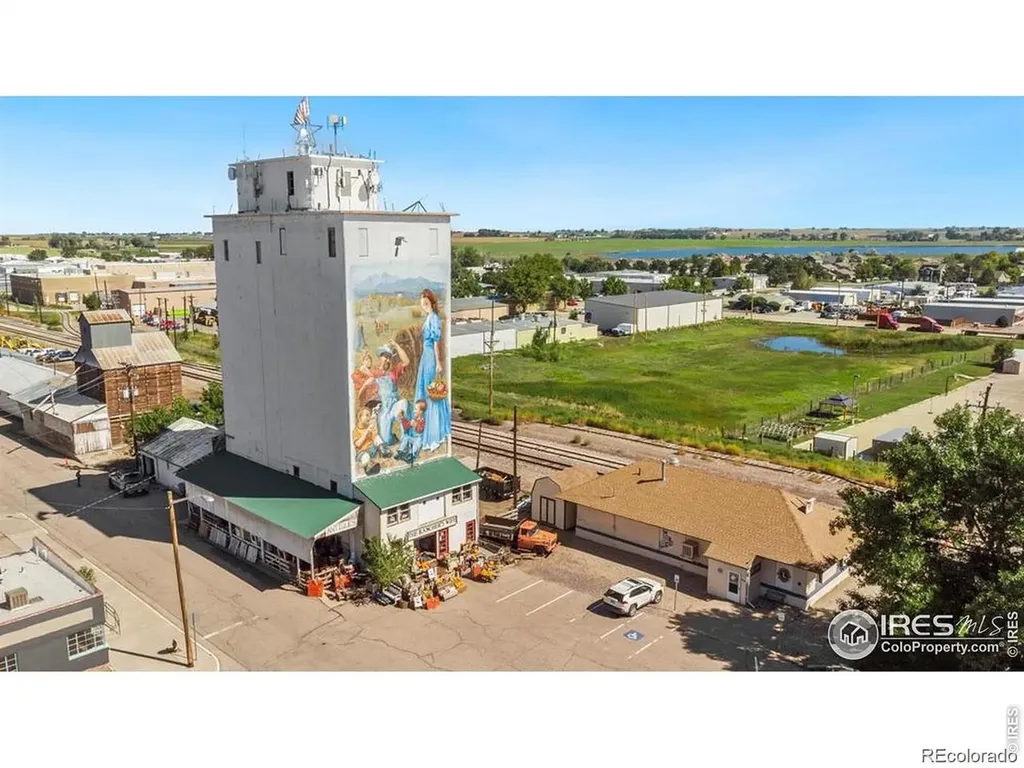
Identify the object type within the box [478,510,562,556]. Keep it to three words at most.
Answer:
truck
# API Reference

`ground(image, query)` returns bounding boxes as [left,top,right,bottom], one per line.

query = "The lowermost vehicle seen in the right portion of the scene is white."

[601,573,662,615]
